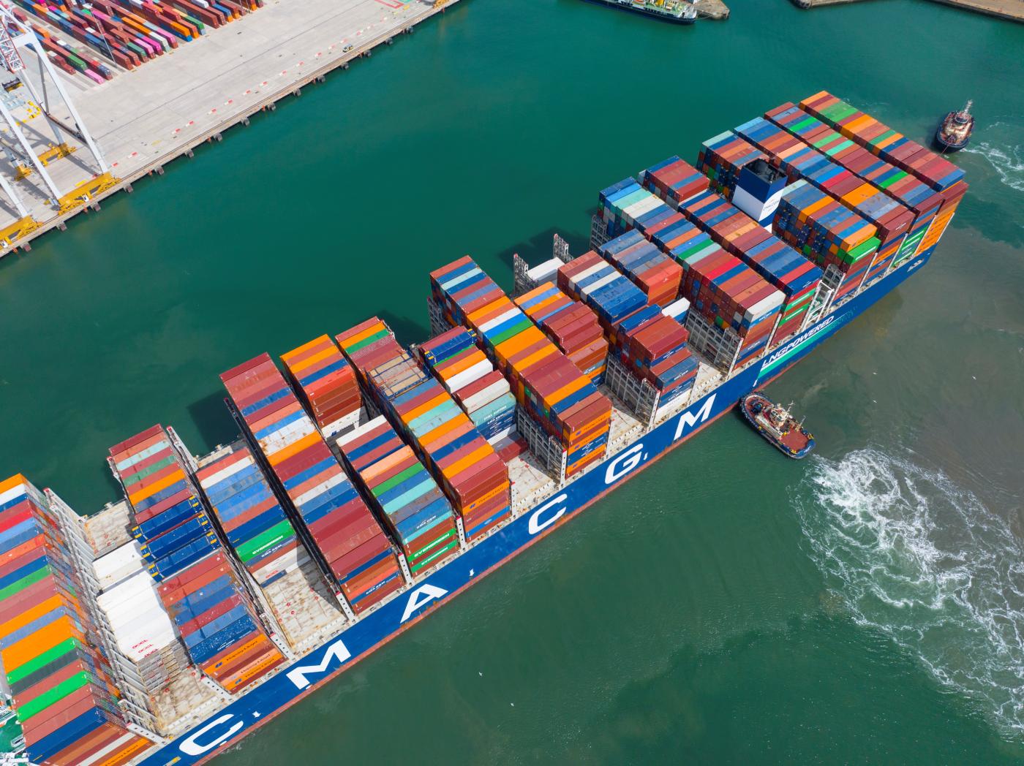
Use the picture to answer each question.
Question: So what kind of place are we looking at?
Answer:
port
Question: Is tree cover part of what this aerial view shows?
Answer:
No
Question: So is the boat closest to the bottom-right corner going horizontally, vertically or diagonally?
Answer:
diagonally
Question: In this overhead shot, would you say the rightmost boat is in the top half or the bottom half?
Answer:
top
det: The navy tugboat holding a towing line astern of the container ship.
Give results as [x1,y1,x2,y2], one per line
[939,102,984,150]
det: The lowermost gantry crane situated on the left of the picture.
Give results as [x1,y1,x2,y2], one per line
[0,169,45,246]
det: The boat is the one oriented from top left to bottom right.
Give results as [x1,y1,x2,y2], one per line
[741,393,821,460]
